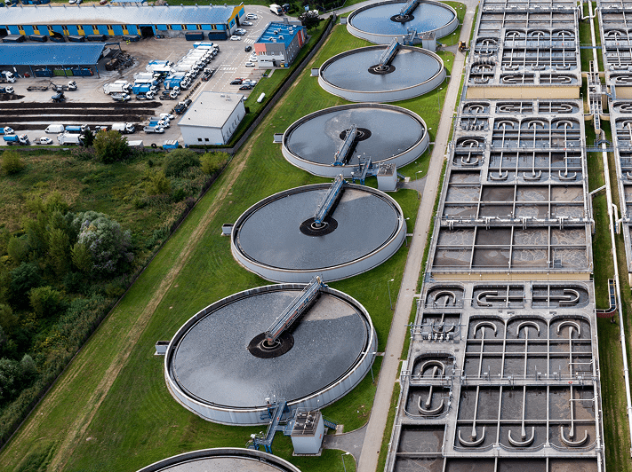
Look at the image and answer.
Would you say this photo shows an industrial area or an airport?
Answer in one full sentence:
This image shows an industrial area.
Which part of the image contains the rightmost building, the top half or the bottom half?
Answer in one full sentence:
The top half of the photo is where the rightmost building is.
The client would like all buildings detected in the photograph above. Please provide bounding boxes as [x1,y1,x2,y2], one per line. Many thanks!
[0,2,249,39]
[421,30,452,51]
[177,93,245,144]
[289,411,355,456]
[253,18,307,68]
[375,162,419,191]
[0,42,142,79]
